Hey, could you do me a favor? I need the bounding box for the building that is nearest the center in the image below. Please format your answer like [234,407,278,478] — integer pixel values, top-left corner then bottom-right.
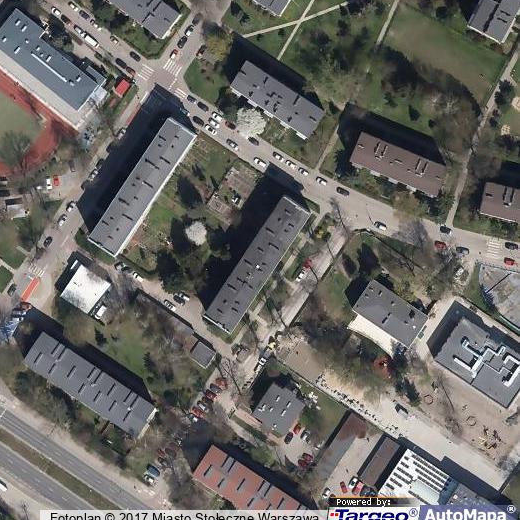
[204,197,310,334]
